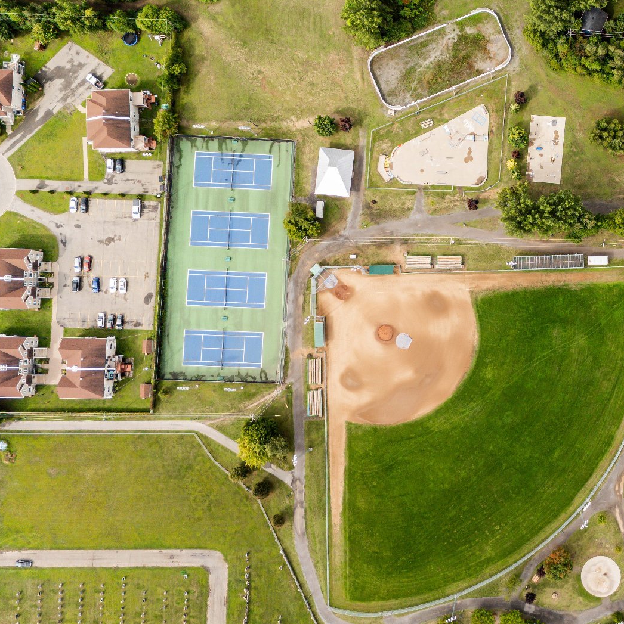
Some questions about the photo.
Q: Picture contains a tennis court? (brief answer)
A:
Yes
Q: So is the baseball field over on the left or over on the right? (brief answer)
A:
right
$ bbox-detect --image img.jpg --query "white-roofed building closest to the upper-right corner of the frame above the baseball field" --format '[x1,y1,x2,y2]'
[315,148,356,198]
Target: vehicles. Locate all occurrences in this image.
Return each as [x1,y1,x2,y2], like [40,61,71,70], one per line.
[93,278,101,292]
[84,256,93,272]
[81,198,88,212]
[73,276,81,292]
[116,158,124,173]
[106,158,115,173]
[74,256,83,272]
[115,313,125,330]
[97,312,106,328]
[110,277,117,293]
[86,74,105,88]
[16,560,32,567]
[107,314,115,328]
[70,197,78,212]
[133,199,141,218]
[120,277,127,293]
